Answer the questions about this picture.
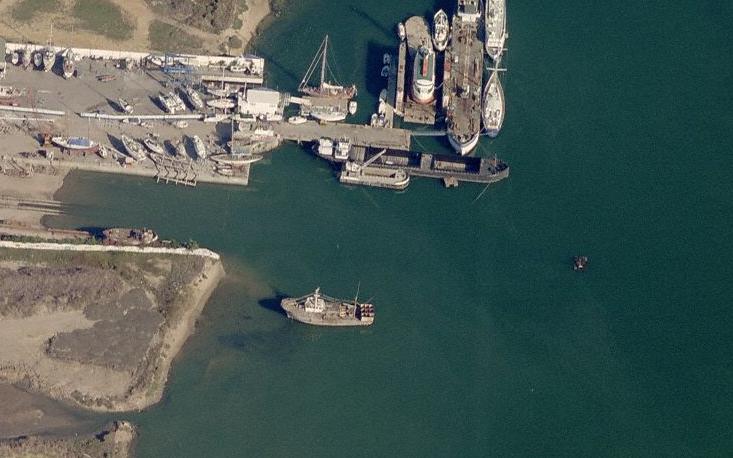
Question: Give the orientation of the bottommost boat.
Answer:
from side to side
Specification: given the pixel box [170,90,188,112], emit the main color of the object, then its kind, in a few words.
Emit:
white boat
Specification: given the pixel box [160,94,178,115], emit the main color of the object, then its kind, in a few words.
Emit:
white boat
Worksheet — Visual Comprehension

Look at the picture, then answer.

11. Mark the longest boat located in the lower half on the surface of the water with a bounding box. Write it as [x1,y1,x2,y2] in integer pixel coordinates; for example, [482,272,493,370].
[283,278,374,324]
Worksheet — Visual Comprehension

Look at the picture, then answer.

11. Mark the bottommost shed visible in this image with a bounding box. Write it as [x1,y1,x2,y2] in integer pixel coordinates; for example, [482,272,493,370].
[238,89,280,118]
